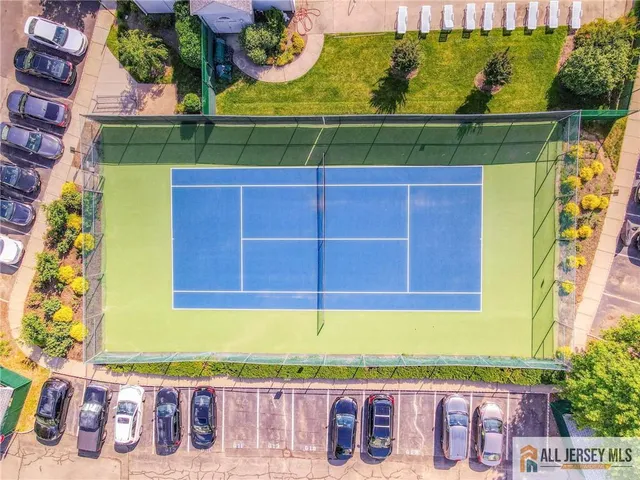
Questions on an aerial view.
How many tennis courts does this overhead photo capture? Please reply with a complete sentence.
Only 1 tennis court is visible.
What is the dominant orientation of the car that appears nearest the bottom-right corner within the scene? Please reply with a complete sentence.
What the image shows is the car that appears nearest the bottom-right corner lying up and down.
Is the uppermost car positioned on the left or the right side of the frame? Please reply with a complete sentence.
The uppermost car is on the left side of the image.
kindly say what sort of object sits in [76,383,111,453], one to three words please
truck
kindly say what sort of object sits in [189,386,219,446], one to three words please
car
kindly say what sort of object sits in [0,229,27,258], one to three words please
car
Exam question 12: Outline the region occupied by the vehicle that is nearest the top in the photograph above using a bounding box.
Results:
[28,19,91,58]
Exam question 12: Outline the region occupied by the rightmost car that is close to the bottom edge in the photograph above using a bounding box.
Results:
[475,399,506,464]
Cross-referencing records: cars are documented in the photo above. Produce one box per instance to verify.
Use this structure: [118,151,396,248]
[28,19,91,58]
[16,49,79,87]
[38,377,75,437]
[11,93,72,128]
[0,229,27,258]
[366,393,396,457]
[330,394,359,458]
[475,399,506,464]
[0,158,44,191]
[189,386,219,446]
[153,386,184,450]
[0,191,40,224]
[2,121,66,156]
[441,392,472,459]
[114,384,146,444]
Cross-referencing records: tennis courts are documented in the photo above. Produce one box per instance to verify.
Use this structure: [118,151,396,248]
[102,121,558,359]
